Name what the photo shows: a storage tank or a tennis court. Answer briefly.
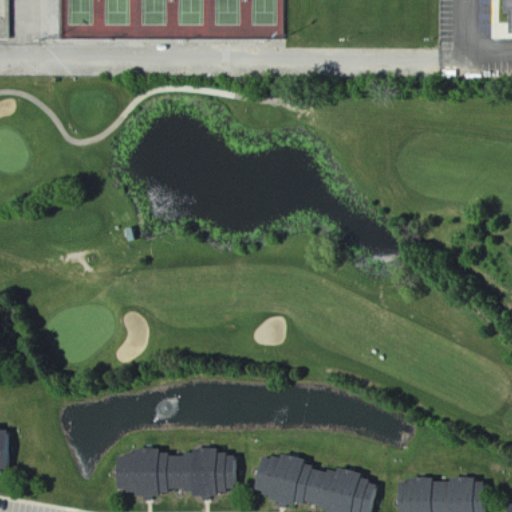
tennis court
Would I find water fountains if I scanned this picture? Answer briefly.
Yes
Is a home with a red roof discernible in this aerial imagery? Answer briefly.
No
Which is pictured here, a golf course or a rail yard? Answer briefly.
golf course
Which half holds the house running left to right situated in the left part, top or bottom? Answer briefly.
bottom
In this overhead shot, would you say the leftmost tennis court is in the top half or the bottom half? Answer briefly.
top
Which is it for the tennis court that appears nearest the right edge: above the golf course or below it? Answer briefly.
above it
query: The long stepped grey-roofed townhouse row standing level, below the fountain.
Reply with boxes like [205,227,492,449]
[116,448,239,500]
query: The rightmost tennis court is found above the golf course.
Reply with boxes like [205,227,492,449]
[252,0,277,26]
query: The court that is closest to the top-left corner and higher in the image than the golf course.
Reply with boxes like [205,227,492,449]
[68,0,94,26]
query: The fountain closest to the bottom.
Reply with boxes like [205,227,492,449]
[154,396,180,422]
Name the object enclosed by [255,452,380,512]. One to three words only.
house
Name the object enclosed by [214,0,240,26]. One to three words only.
tennis court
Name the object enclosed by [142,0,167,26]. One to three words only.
tennis court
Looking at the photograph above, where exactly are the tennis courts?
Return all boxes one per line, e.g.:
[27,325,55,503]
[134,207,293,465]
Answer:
[252,0,277,26]
[142,0,167,26]
[104,0,130,26]
[178,0,204,26]
[214,0,240,26]
[68,0,94,26]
